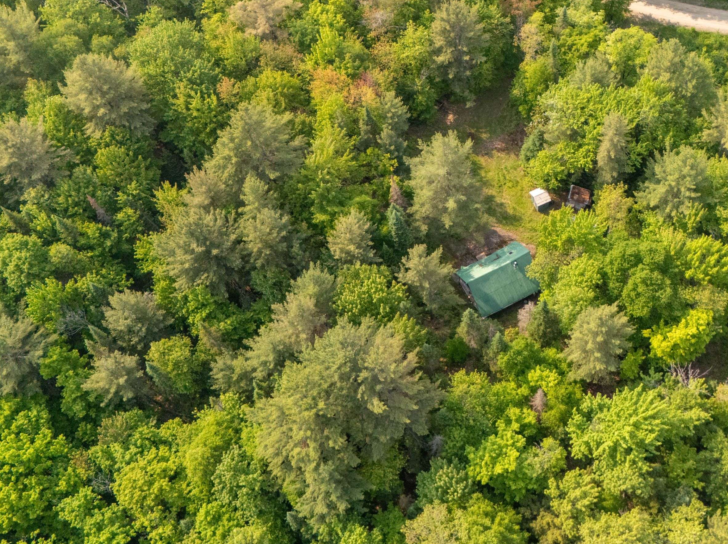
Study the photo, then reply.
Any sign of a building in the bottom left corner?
No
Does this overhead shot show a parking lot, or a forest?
forest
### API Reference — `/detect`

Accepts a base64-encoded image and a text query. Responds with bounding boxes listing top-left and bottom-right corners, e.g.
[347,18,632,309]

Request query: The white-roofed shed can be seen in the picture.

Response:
[529,188,551,211]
